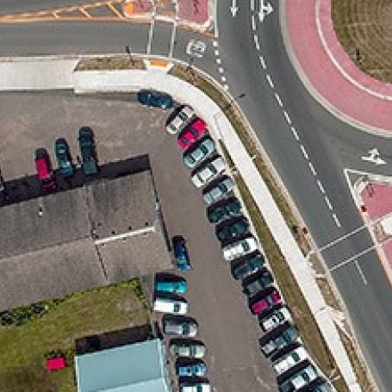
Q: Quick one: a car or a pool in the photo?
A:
car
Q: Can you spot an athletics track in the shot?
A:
No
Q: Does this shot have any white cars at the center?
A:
Yes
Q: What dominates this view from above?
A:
paved ground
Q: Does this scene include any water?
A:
No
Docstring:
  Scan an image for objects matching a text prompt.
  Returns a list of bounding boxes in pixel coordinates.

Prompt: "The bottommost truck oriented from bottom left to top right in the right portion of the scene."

[276,362,319,392]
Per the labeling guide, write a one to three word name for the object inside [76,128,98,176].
truck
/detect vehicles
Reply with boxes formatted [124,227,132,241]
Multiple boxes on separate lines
[206,197,241,222]
[235,268,279,299]
[271,346,308,374]
[276,362,319,392]
[177,379,214,392]
[155,279,186,295]
[214,218,250,241]
[191,157,225,185]
[152,296,187,314]
[229,254,265,279]
[76,128,98,176]
[200,177,235,204]
[170,236,190,270]
[257,323,302,355]
[53,140,74,177]
[163,318,197,335]
[247,288,283,314]
[181,138,215,167]
[220,237,260,261]
[303,381,327,392]
[33,152,56,188]
[169,341,205,359]
[137,89,172,109]
[257,306,292,332]
[174,118,208,151]
[163,103,196,136]
[176,360,208,377]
